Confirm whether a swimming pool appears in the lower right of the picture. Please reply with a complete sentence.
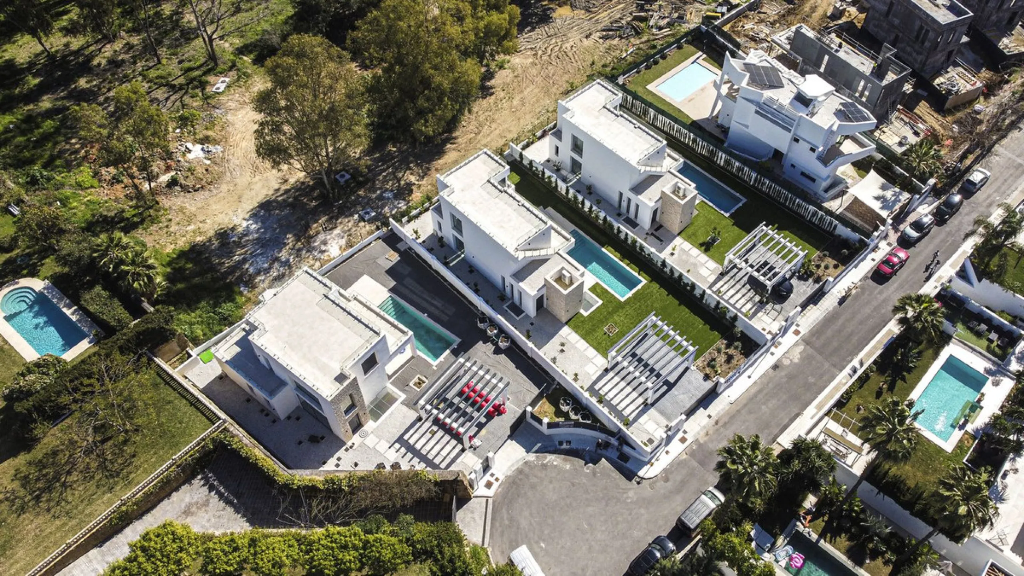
Yes, a swimming pool appears in the lower right of the picture.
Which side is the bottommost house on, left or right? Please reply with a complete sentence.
The bottommost house is on the left side of the image.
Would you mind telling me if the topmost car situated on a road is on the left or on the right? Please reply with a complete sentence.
You can find the topmost car situated on a road on the right side of the picture.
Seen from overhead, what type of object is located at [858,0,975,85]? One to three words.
house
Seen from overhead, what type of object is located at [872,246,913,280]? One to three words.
car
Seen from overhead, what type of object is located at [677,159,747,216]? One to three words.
swimming pool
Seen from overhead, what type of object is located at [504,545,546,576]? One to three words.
vehicle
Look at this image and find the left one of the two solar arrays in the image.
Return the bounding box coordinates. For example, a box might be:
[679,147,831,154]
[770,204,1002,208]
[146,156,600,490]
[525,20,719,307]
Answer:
[742,63,784,89]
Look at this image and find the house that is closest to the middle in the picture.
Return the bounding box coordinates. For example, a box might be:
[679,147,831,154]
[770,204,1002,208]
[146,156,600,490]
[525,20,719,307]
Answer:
[434,146,604,322]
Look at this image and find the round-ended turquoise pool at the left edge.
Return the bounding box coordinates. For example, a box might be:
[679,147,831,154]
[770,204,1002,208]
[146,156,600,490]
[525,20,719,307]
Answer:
[0,285,90,358]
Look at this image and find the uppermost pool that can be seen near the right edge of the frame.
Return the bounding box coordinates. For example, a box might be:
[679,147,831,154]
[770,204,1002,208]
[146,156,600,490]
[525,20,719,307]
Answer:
[911,349,993,447]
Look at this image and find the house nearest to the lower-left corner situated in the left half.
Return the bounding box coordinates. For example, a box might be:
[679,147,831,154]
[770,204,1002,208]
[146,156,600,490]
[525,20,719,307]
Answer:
[213,264,416,442]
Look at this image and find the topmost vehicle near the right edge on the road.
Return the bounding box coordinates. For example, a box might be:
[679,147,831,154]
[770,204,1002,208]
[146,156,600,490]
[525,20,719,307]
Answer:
[957,167,994,196]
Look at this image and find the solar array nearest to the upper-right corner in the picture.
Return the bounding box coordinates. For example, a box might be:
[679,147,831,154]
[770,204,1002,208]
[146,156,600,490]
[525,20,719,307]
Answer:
[839,102,871,129]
